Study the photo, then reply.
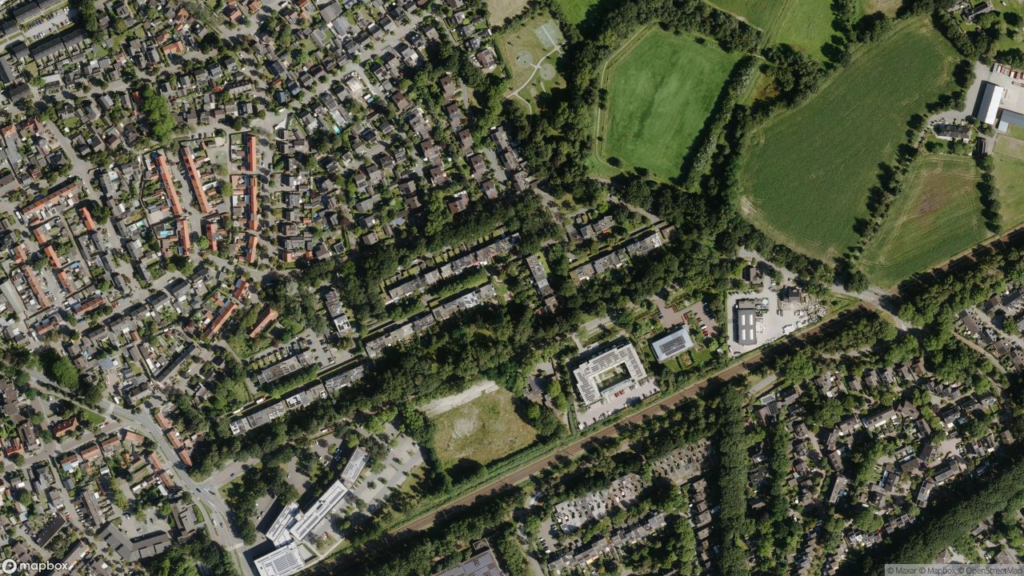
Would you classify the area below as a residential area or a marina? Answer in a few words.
residential area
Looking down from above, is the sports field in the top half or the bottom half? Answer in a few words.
top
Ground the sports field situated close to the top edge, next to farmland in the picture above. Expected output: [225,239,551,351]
[593,19,756,189]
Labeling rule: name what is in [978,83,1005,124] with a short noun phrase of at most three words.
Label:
barn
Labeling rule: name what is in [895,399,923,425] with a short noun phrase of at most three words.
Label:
house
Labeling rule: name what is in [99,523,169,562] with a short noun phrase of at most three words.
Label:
building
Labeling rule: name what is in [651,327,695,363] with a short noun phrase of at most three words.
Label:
building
